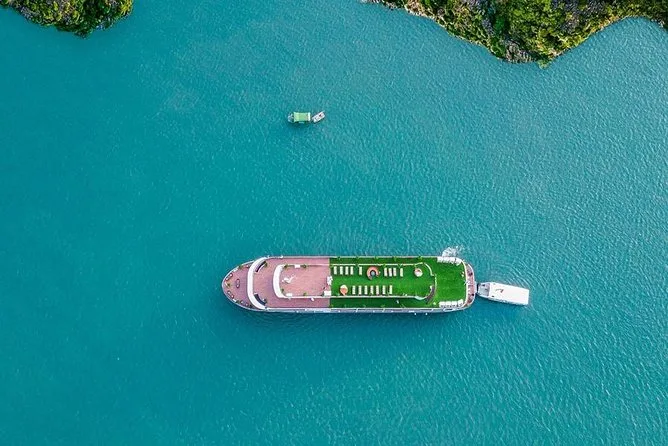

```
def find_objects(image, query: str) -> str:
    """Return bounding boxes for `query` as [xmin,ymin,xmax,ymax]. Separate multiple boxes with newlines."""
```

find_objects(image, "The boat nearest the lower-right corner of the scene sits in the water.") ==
[476,284,528,306]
